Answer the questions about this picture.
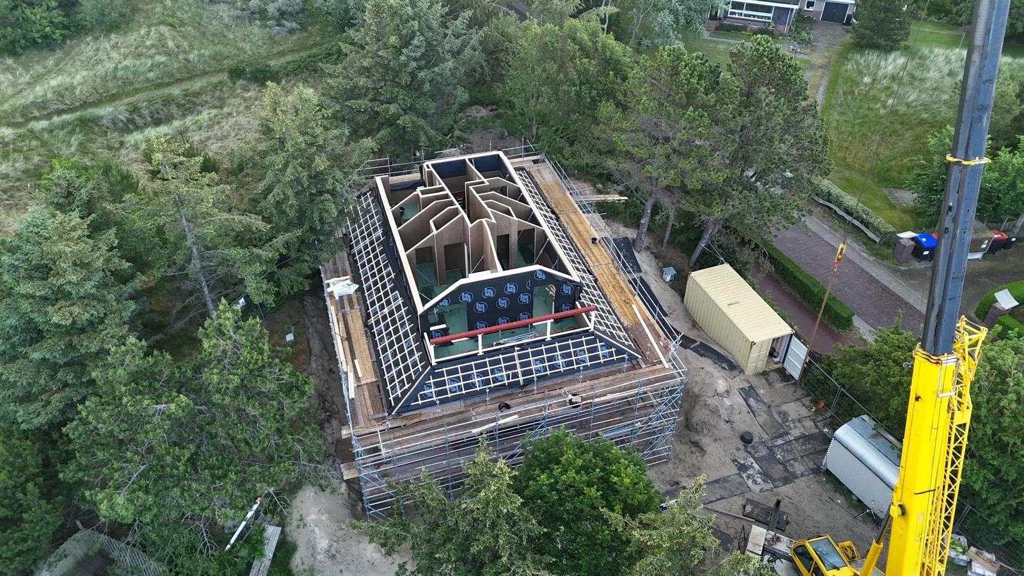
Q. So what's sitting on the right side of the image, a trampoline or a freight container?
freight container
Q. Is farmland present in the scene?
No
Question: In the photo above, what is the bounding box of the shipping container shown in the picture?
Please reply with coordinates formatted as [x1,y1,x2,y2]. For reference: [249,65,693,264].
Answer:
[684,262,806,377]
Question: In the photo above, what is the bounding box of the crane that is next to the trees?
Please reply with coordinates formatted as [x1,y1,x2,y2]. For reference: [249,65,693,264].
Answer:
[756,0,1009,576]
